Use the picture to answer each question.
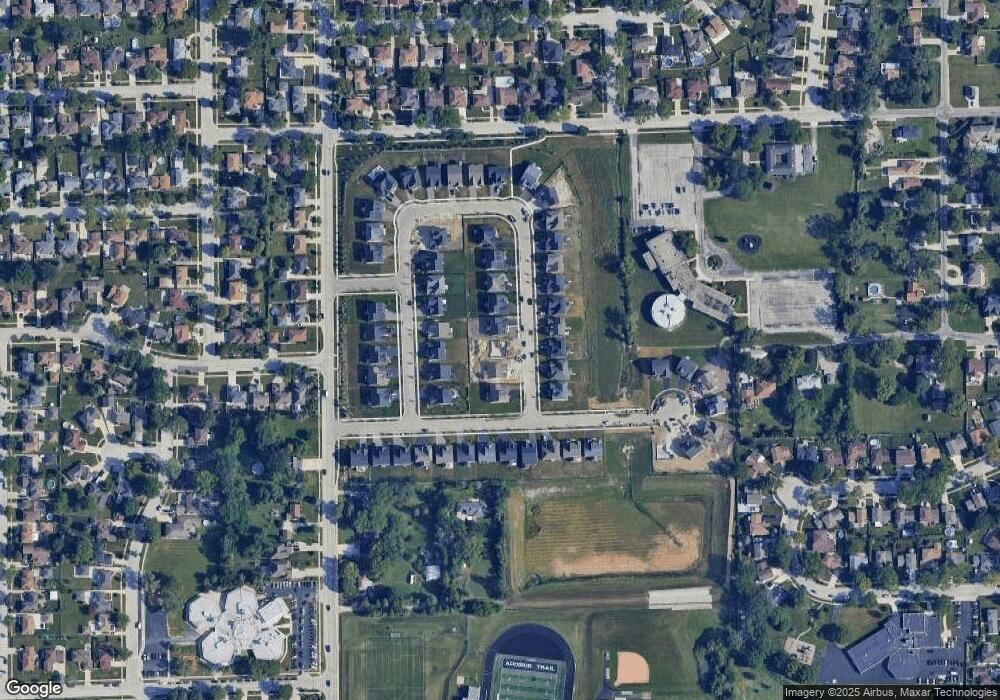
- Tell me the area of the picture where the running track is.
bottom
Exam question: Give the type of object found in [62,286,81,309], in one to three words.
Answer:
house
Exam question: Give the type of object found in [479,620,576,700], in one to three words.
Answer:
running track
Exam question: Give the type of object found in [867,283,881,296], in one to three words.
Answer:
swimming pool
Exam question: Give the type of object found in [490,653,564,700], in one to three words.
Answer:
sports field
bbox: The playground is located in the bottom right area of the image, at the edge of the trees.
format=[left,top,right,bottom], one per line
[785,638,814,665]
